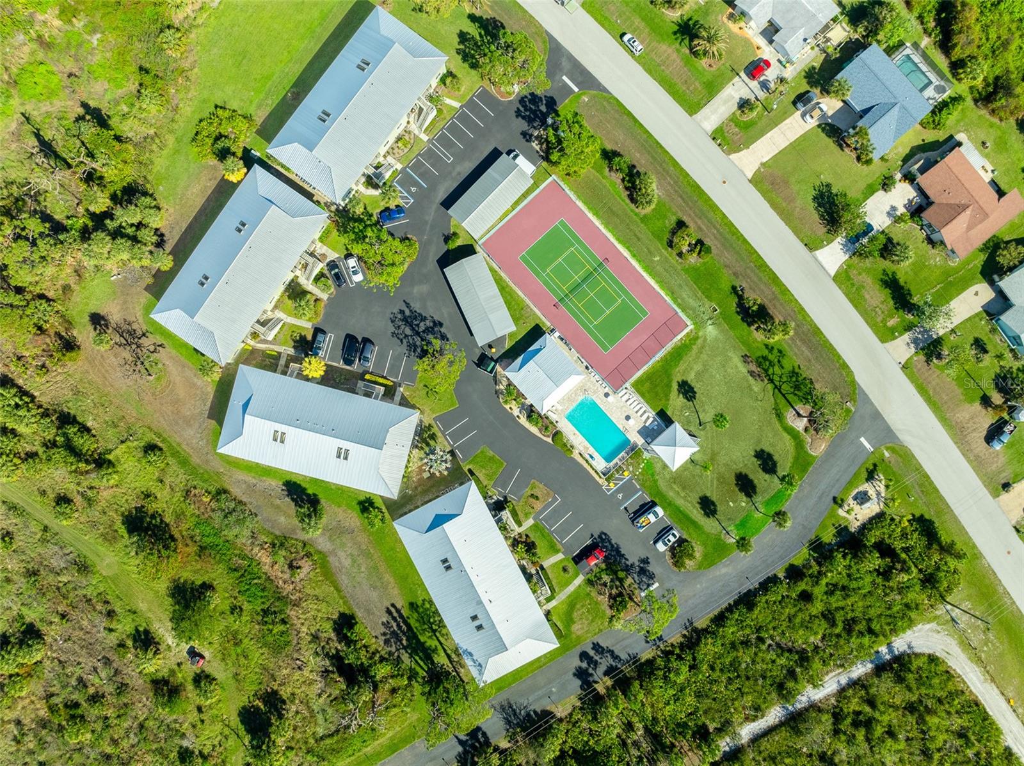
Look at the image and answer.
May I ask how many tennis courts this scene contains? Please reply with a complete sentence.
Only 1 tennis court is visible.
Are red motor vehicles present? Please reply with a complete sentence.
Yes, I can see a red motor vehicle in this picture.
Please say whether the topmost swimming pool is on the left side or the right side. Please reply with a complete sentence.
It is on the right.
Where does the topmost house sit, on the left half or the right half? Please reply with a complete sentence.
The topmost house appears in the right half of the scene.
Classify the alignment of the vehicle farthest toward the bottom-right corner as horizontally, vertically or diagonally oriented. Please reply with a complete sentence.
Seen from above, the vehicle farthest toward the bottom-right corner lies diagonally.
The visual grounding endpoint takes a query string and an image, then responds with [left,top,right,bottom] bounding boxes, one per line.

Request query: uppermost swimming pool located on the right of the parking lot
[895,52,935,93]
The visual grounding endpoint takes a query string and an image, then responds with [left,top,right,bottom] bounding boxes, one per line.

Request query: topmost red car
[749,60,772,81]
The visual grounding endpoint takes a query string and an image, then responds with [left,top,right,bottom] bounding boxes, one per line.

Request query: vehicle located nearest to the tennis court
[511,151,537,175]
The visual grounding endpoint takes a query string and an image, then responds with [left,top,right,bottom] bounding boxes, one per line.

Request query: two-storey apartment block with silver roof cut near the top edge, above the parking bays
[266,6,447,206]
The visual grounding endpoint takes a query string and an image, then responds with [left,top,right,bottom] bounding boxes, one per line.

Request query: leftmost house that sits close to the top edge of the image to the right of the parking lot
[733,0,841,58]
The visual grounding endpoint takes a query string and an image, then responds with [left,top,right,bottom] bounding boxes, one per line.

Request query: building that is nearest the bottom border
[393,480,560,687]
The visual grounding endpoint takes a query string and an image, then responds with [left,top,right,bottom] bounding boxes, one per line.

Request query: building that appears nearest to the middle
[505,333,586,414]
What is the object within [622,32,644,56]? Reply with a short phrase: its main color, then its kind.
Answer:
white car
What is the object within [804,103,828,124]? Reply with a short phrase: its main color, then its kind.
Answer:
white car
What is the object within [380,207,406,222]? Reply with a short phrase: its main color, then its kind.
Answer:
blue car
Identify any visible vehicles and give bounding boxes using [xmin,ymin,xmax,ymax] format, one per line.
[343,336,358,366]
[380,207,406,222]
[511,151,537,175]
[346,256,364,283]
[635,506,665,533]
[795,92,817,111]
[328,262,347,288]
[990,419,1020,449]
[312,331,327,356]
[361,341,375,367]
[656,529,679,552]
[804,103,828,124]
[749,60,772,81]
[576,547,607,573]
[186,650,204,666]
[622,32,644,56]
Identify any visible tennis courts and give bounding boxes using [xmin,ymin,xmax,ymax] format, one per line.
[482,179,690,390]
